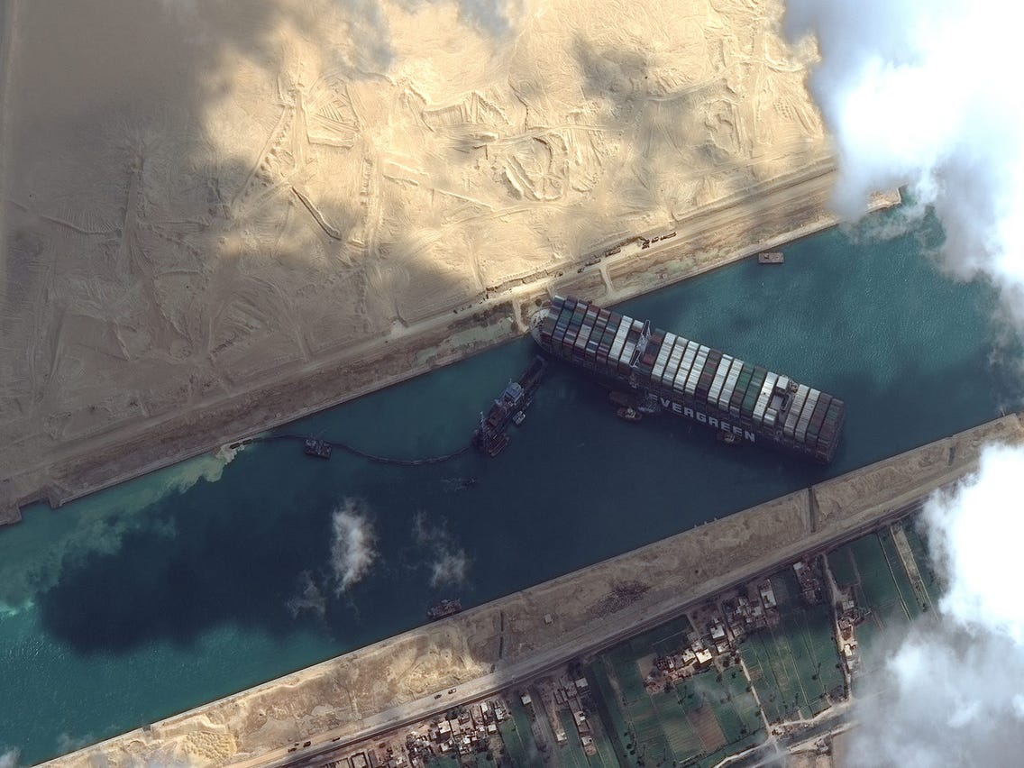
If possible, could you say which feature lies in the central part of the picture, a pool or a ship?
ship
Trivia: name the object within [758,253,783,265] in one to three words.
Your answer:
ship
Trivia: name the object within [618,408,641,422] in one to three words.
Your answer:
boat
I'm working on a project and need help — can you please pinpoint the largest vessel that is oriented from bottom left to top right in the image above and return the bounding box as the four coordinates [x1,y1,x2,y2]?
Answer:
[484,361,543,448]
